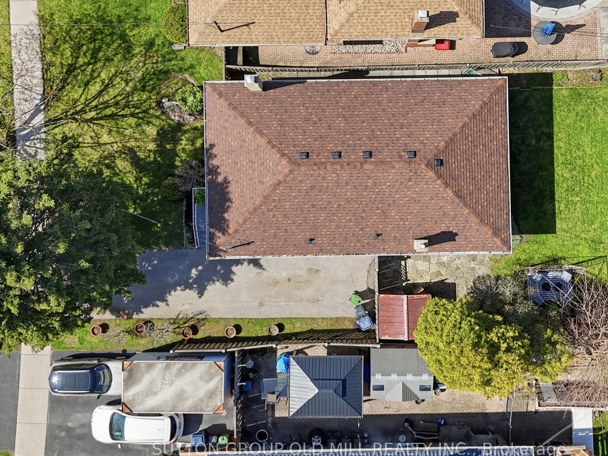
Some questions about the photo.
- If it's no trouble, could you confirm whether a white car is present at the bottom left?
Yes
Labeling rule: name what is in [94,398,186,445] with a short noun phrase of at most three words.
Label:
car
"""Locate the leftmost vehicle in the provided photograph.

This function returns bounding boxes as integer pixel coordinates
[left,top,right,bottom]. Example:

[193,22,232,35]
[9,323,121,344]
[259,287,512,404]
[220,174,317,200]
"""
[48,355,132,399]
